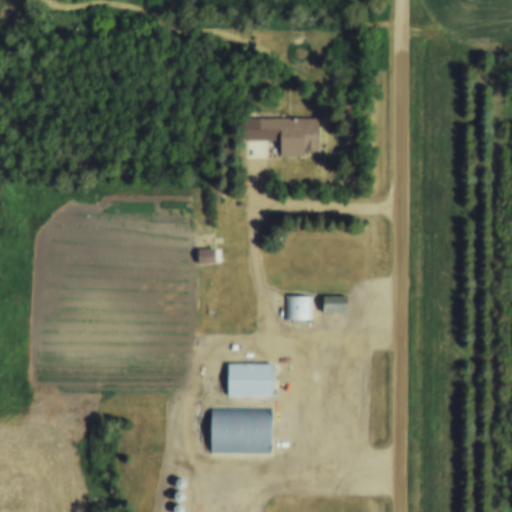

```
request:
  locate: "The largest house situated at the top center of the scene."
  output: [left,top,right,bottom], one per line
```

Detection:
[246,118,320,158]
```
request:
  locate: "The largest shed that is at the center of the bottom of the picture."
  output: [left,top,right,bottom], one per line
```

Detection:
[212,408,272,453]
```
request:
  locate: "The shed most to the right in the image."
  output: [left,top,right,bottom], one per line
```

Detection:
[324,296,349,314]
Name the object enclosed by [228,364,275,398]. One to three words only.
shed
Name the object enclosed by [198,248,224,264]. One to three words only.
shed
